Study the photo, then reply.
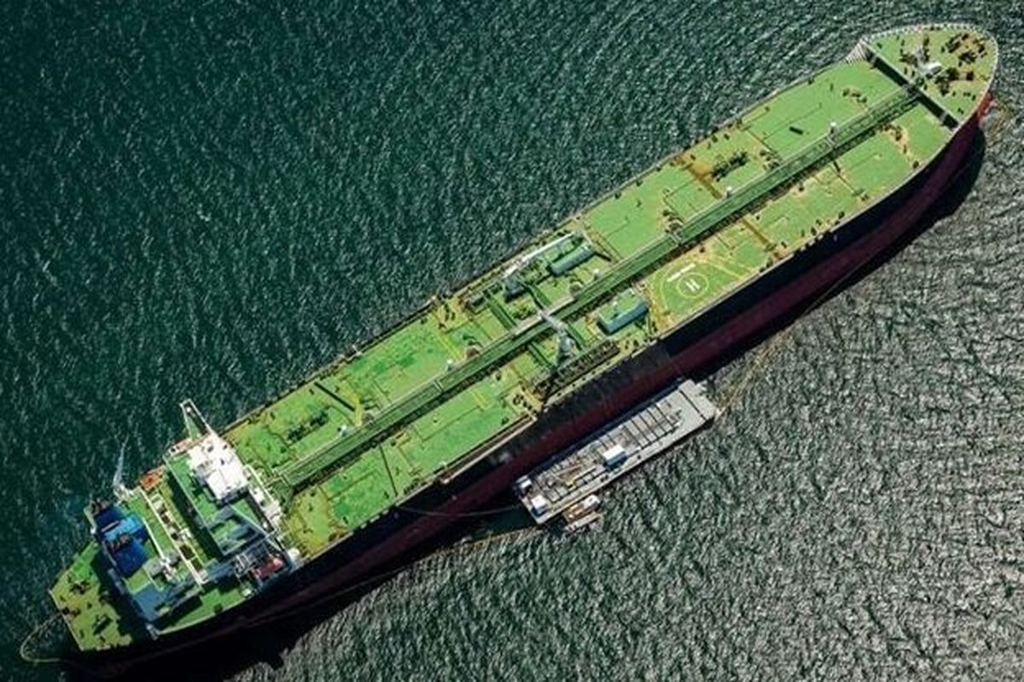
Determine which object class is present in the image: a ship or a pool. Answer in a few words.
ship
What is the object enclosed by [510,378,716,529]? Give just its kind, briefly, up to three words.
ship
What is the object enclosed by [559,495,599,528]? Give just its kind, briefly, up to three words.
boat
